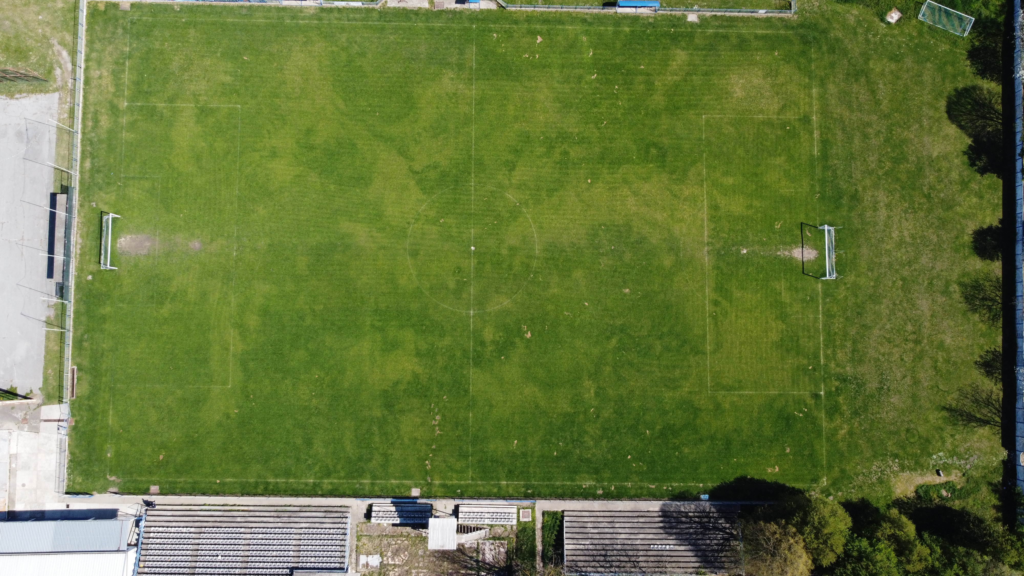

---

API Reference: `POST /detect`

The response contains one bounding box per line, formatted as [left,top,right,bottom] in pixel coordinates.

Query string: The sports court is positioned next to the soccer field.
[0,86,59,401]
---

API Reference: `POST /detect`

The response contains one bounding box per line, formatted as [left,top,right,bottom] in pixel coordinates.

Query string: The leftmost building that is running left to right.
[0,518,138,576]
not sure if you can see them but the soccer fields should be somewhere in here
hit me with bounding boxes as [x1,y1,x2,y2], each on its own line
[99,14,831,493]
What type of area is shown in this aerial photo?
sports ground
